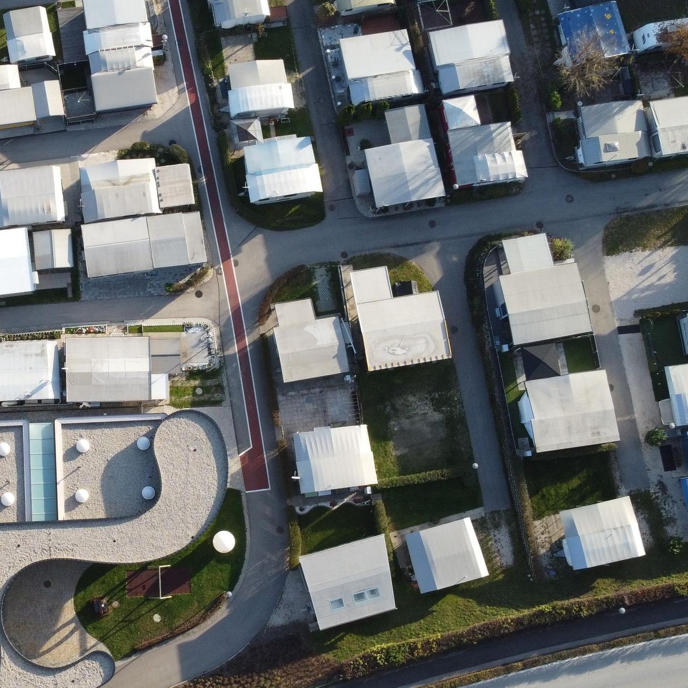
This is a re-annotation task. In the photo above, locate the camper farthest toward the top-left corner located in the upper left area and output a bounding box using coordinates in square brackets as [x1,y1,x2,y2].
[5,8,55,69]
